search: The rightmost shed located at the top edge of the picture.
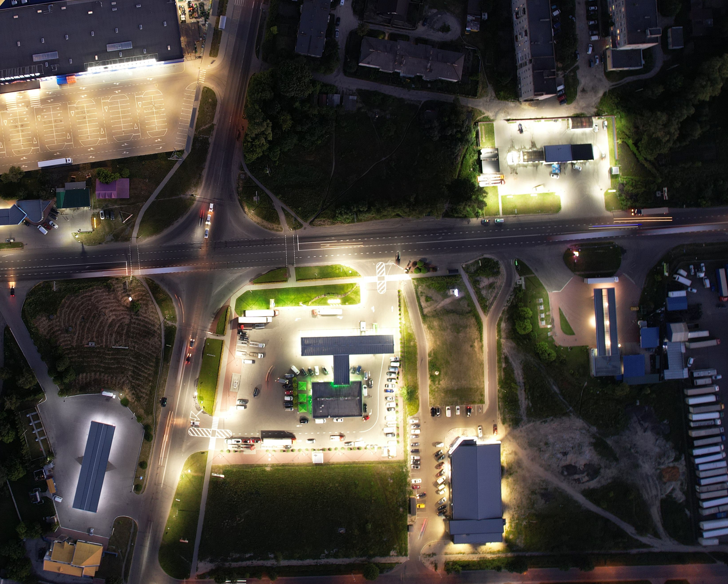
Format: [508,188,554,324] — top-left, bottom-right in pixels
[667,26,684,49]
